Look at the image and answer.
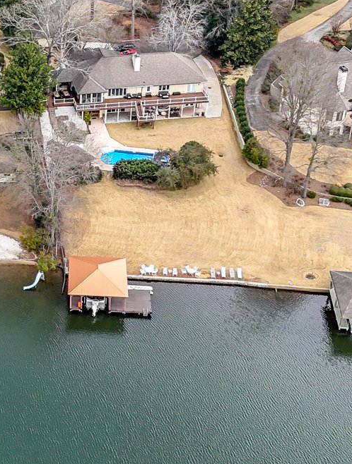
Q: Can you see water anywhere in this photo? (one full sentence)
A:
Yes, there is water in the image.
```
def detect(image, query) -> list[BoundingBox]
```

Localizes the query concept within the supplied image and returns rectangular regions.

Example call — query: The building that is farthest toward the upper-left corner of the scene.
[39,43,215,131]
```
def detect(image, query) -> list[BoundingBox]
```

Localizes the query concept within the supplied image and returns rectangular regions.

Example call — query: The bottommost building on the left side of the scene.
[66,256,153,321]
